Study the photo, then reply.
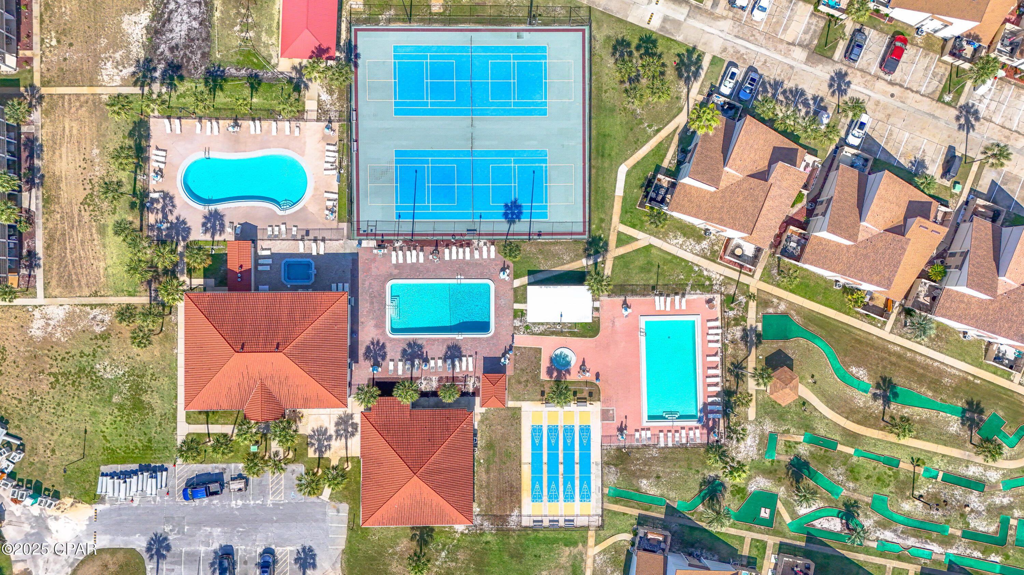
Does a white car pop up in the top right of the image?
Yes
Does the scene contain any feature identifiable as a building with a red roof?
Yes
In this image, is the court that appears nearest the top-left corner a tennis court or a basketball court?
tennis court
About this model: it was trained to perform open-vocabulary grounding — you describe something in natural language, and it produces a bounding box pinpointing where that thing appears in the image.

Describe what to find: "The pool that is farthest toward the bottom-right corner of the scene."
[639,314,705,429]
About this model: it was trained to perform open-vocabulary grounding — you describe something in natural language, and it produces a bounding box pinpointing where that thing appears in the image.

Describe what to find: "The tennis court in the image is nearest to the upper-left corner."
[350,25,589,239]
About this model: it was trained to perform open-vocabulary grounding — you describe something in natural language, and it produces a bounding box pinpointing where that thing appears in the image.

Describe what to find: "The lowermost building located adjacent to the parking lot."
[361,397,473,528]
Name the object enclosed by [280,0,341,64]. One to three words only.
building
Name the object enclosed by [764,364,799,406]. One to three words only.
gazebo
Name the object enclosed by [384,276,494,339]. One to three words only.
swimming pool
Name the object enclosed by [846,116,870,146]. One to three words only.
car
